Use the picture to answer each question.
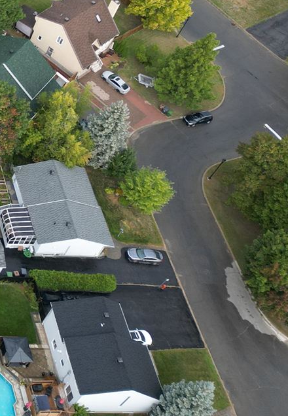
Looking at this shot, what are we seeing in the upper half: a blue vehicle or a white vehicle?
white vehicle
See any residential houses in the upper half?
Yes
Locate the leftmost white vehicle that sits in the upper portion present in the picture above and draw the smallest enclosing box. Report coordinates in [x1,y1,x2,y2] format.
[100,72,132,95]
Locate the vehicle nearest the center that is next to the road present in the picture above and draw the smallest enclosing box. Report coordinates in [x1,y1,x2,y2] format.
[124,247,165,265]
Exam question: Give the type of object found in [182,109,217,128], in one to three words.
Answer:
car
